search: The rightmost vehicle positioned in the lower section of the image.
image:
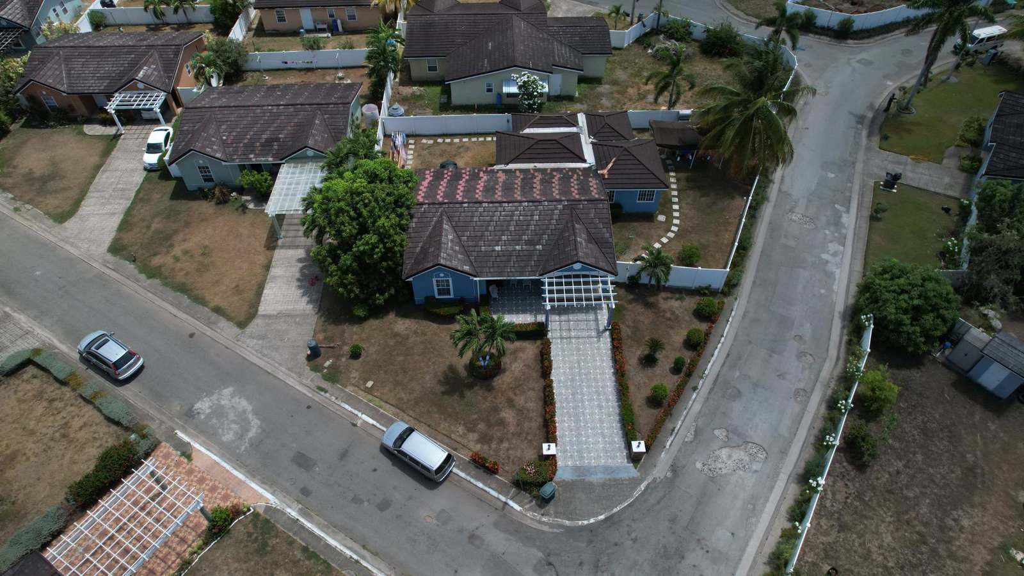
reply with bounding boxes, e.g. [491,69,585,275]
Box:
[383,424,464,485]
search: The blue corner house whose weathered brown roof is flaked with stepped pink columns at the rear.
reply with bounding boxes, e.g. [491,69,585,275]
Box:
[402,111,669,304]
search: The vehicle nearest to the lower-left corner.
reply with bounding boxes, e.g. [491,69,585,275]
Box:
[75,334,142,381]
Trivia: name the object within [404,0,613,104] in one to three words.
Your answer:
house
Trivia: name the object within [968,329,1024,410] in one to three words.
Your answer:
shed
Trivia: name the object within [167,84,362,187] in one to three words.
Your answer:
house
